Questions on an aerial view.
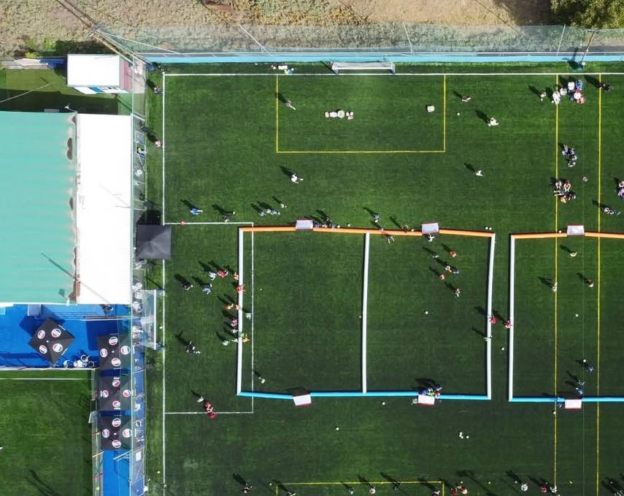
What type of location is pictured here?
sports ground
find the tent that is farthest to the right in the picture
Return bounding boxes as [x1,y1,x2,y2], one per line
[137,225,179,260]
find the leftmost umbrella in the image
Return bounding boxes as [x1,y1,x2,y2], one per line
[30,317,75,363]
